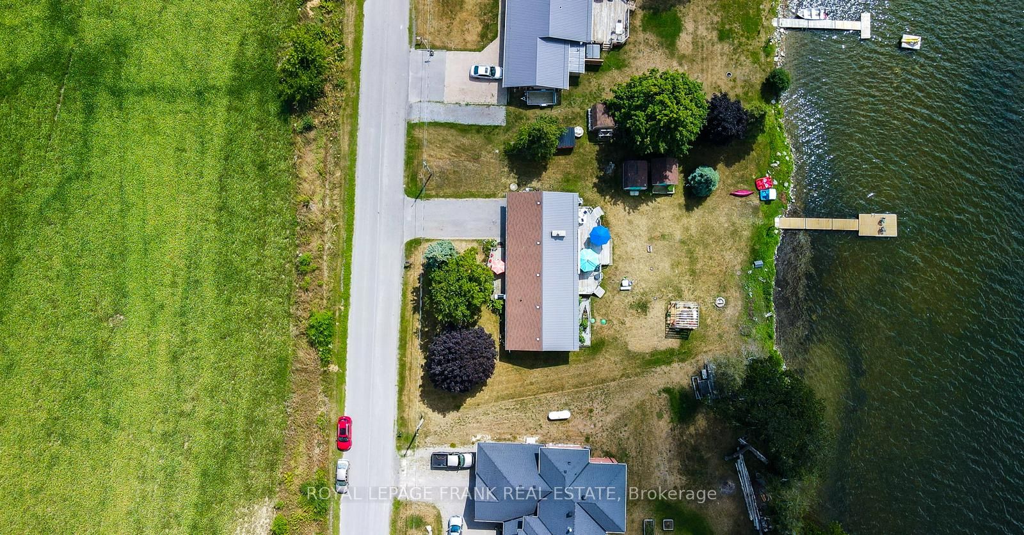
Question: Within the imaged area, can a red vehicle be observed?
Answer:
Yes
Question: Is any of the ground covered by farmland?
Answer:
Yes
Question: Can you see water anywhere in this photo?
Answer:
Yes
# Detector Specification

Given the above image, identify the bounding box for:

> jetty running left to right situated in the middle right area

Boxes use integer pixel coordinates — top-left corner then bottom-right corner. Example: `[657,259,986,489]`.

[775,213,898,236]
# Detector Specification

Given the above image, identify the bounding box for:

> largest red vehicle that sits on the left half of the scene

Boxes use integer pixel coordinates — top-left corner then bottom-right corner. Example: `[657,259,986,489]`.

[335,416,353,451]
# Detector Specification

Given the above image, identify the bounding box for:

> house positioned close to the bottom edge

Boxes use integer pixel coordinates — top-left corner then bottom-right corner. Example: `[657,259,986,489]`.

[474,436,627,535]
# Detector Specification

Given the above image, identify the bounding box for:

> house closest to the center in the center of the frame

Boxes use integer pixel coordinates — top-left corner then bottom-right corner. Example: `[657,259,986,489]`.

[495,191,581,352]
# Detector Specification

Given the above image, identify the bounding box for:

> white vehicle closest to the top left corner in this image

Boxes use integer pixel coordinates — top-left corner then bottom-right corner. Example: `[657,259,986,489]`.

[468,62,502,80]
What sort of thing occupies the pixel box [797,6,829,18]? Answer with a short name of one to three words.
boat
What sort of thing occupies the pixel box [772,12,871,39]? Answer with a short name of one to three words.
pier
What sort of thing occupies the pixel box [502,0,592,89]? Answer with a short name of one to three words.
house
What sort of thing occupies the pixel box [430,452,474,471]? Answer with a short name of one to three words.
vehicle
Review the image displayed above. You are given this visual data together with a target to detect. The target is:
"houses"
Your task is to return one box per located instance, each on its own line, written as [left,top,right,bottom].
[502,0,592,89]
[495,191,581,352]
[474,436,627,535]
